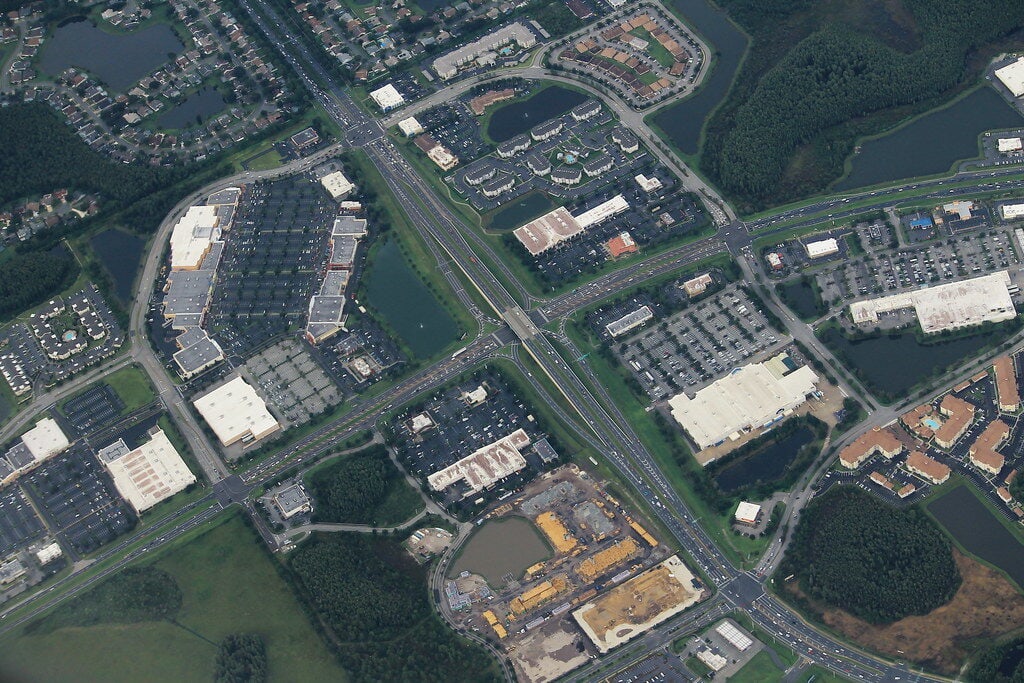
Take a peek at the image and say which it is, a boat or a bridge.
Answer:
bridge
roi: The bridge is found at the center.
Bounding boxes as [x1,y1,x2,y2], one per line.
[498,301,541,339]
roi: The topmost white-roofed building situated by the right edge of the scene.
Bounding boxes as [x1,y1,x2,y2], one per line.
[994,56,1024,100]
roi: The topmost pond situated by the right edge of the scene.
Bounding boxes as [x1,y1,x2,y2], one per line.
[830,87,1024,194]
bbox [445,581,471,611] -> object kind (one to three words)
house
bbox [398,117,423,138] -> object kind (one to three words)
building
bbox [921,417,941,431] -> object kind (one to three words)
swimming pool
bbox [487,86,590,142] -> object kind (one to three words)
pond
